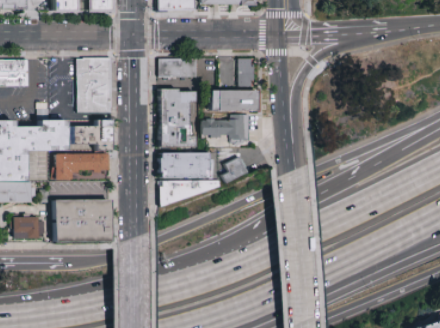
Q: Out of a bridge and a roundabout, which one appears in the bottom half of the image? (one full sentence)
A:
Looking in the bottom half of the image, you will find a bridge.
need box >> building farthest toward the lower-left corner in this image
[12,217,44,240]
